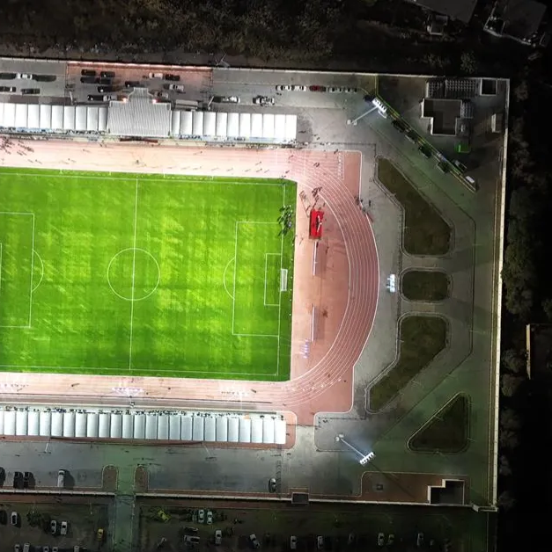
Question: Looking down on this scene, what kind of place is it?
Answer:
sports ground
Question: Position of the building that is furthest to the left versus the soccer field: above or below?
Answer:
above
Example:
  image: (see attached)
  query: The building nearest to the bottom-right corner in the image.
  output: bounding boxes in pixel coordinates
[423,478,464,506]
